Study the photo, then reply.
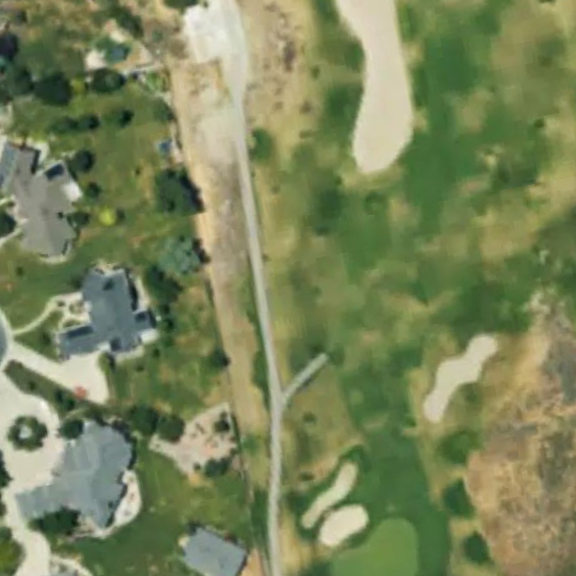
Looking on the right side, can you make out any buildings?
No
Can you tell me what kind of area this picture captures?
golf course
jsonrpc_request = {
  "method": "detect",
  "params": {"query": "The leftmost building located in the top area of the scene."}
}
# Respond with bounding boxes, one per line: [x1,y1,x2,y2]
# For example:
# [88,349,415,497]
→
[0,142,75,254]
